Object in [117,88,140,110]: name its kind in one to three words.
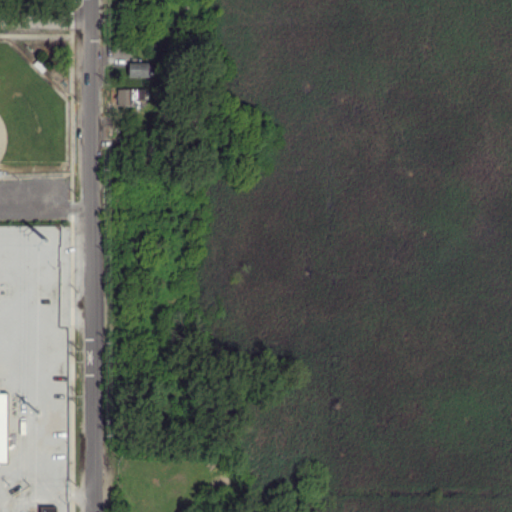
house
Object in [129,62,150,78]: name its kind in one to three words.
house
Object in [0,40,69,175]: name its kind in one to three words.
baseball field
